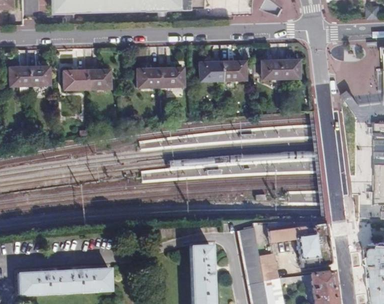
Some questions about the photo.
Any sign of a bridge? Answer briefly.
Yes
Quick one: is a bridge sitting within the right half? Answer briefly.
Yes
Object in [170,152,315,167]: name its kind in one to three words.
train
